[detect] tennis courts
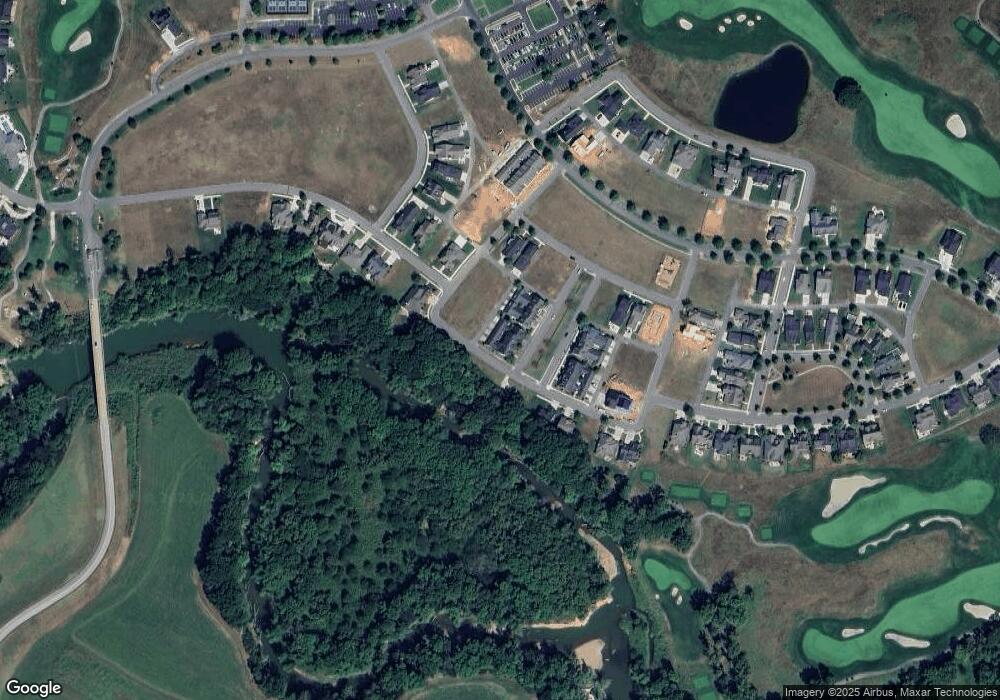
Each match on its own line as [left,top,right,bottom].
[267,0,287,15]
[287,0,308,15]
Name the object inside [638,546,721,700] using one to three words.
golf course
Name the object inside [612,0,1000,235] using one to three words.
golf course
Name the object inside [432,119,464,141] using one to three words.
house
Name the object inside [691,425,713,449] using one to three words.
house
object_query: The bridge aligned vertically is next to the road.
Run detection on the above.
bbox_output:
[89,299,108,420]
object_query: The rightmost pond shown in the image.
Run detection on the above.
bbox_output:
[714,45,811,143]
